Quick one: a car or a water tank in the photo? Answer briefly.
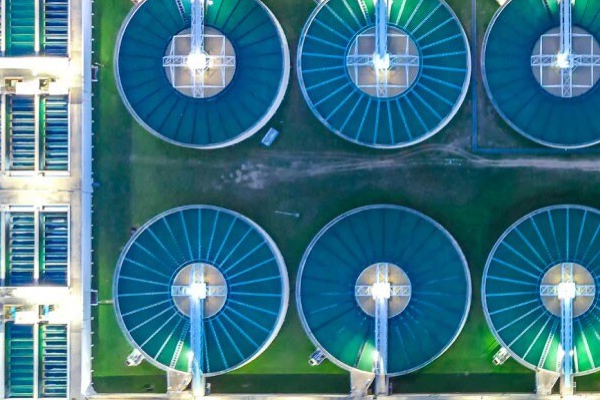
water tank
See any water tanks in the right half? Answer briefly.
Yes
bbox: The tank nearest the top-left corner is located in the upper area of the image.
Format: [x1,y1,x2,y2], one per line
[112,0,288,148]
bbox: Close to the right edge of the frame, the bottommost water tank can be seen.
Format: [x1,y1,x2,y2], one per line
[480,204,600,400]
